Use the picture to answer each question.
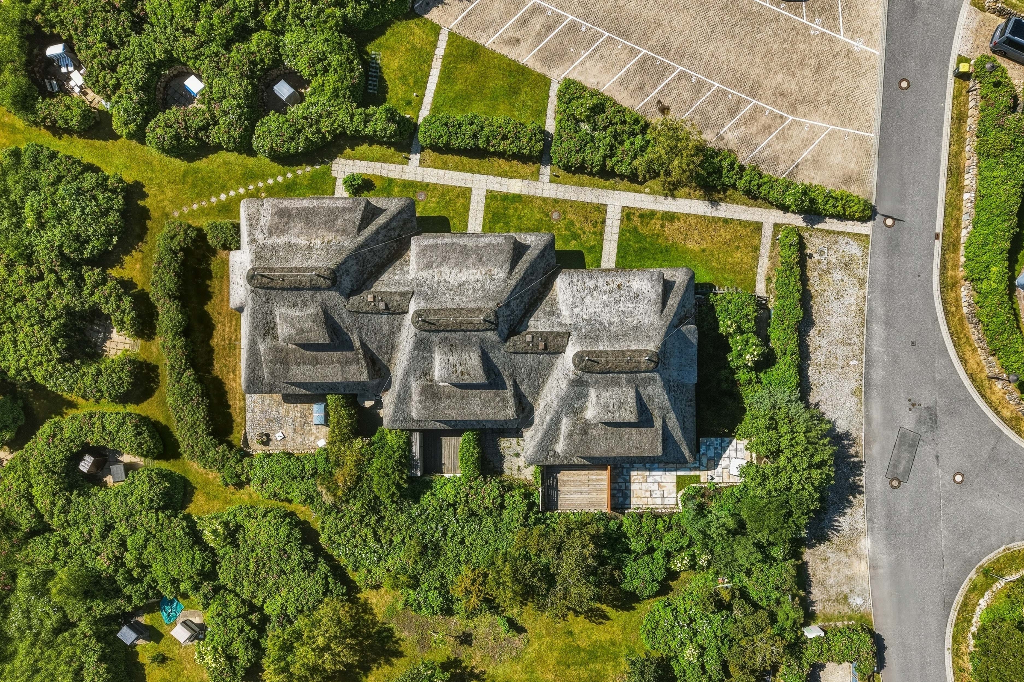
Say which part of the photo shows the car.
top right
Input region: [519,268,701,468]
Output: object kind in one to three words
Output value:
house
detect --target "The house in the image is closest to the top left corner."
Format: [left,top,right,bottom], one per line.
[230,198,421,394]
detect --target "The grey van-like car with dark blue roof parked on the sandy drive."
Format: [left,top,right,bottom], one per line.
[991,18,1024,59]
